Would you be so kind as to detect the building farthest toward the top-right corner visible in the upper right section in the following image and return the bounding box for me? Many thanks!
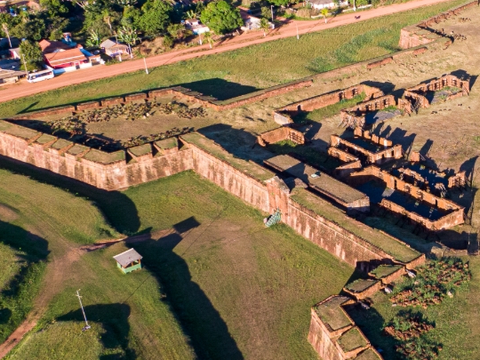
[404,75,476,118]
